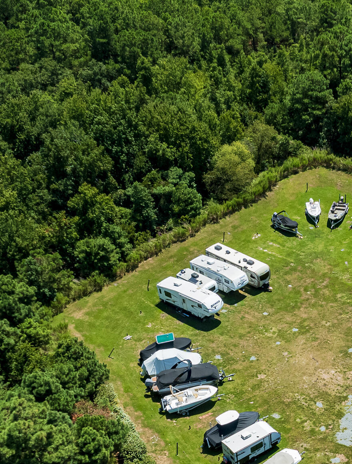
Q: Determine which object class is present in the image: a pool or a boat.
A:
boat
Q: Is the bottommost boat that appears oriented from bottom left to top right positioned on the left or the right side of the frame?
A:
right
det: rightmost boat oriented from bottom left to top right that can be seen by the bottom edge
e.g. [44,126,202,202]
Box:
[202,409,259,451]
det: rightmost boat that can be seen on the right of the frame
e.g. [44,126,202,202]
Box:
[327,194,347,219]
